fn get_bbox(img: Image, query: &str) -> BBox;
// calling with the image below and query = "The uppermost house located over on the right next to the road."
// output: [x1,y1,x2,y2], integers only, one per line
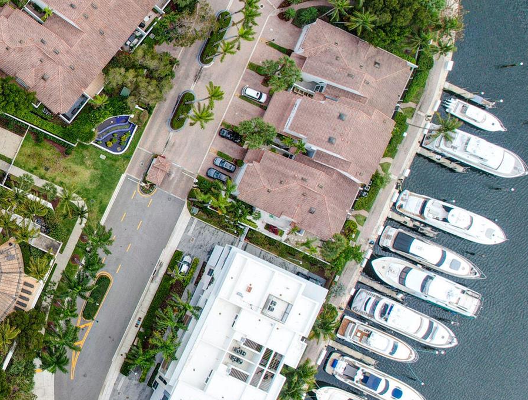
[285,18,410,118]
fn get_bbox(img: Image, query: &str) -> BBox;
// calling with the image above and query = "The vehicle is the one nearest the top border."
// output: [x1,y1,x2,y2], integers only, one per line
[241,86,267,102]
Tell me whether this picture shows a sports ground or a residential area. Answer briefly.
residential area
